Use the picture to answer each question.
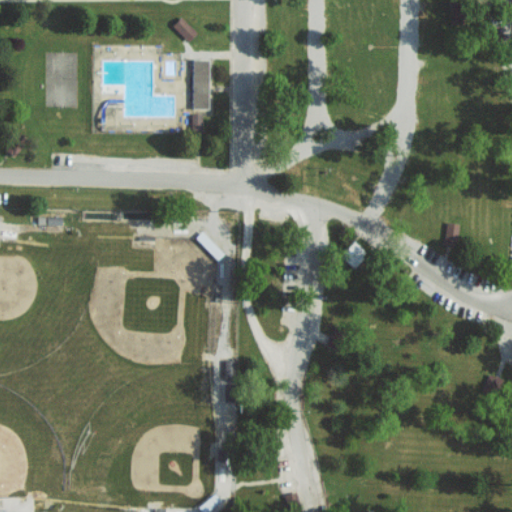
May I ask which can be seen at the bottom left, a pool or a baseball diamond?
baseball diamond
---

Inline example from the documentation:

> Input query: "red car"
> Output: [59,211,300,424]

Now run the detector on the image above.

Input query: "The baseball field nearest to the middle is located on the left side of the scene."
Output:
[90,267,187,364]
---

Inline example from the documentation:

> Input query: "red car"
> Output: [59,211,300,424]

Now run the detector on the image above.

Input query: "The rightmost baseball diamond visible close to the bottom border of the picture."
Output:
[132,424,204,498]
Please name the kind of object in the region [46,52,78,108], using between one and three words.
sports court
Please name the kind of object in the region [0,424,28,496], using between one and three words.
baseball field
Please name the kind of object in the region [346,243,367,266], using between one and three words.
building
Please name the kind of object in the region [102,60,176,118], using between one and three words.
swimming pool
